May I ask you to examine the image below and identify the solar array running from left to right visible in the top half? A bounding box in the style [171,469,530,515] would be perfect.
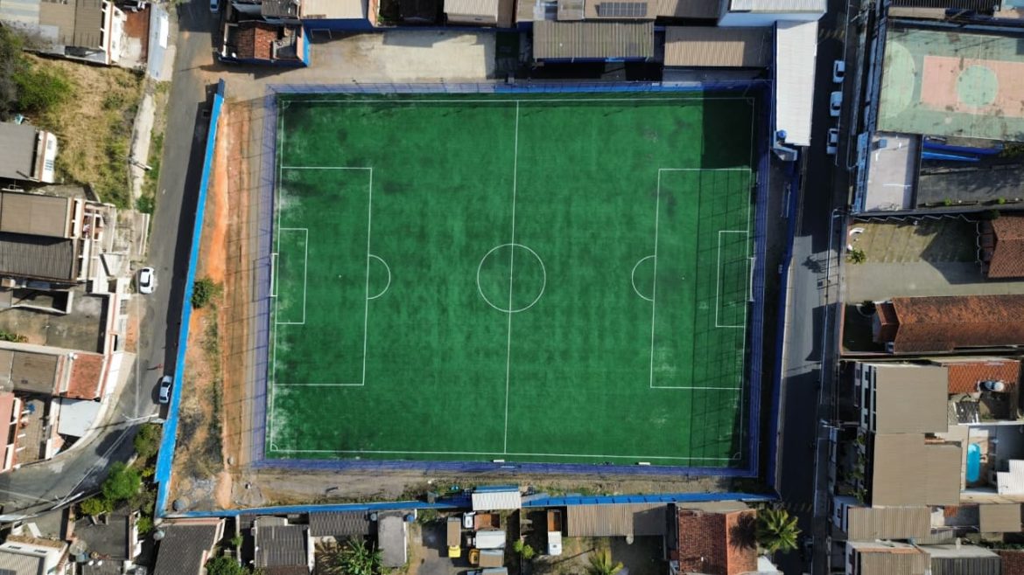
[599,2,648,16]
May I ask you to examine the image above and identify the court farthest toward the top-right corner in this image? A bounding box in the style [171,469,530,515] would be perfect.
[878,26,1024,143]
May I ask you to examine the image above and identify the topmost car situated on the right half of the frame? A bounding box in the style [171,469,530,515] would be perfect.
[833,58,848,82]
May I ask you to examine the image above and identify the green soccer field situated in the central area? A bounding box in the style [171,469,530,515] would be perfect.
[266,90,760,467]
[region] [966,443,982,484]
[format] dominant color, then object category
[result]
blue swimming pool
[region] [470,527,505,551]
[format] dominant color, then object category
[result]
white truck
